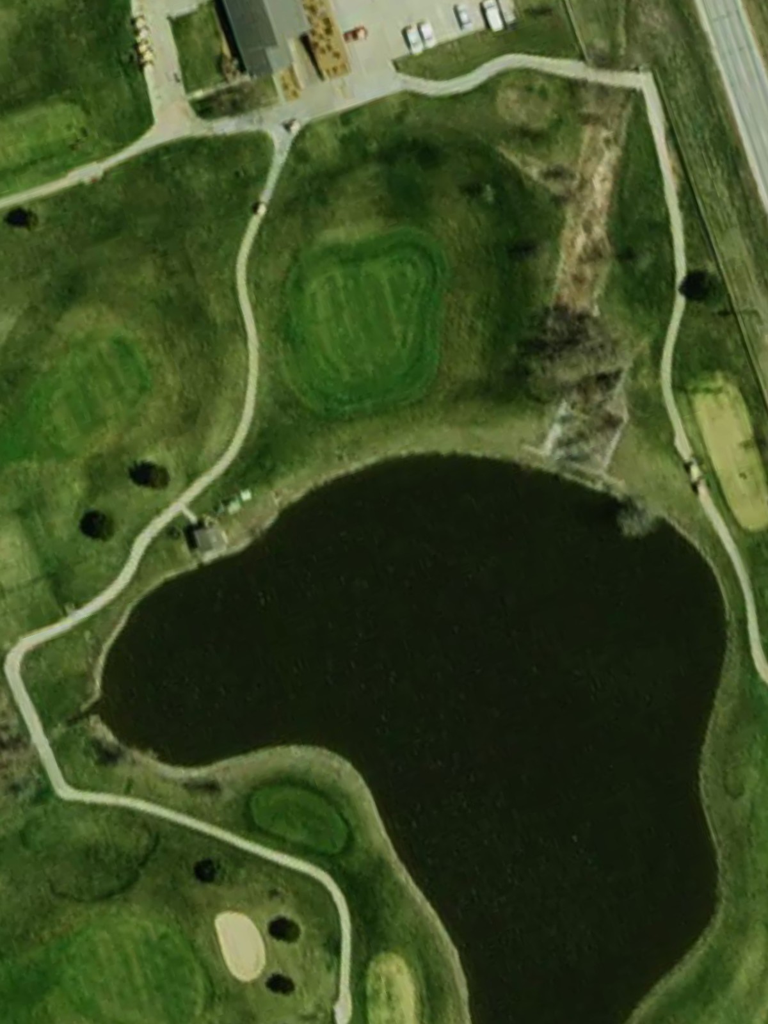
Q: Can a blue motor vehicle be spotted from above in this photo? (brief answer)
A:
No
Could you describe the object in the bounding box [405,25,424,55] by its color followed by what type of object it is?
white car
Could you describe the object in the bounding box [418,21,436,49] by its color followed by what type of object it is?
white car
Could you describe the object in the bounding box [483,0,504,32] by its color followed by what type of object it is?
white vehicle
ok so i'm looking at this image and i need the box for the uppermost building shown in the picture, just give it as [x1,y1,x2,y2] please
[222,0,306,75]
